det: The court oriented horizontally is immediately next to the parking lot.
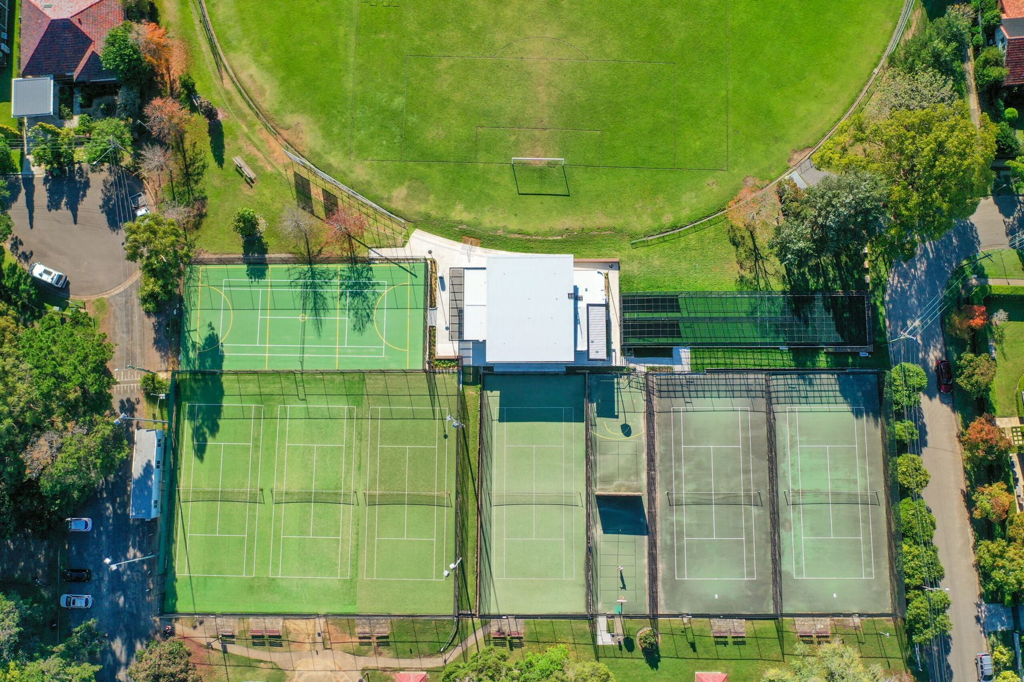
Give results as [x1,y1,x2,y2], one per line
[180,262,426,371]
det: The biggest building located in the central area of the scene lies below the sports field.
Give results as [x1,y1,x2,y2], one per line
[450,254,609,372]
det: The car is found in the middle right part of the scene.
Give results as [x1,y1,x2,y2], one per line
[937,359,957,392]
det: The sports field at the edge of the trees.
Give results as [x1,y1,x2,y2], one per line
[209,0,909,240]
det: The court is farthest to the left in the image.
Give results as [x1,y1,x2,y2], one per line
[164,373,271,614]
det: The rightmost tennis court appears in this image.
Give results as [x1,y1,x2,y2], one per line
[773,374,892,613]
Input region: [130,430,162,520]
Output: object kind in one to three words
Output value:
shed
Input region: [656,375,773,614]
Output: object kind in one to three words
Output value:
tennis court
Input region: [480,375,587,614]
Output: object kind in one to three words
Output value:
tennis court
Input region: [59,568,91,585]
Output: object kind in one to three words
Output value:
car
